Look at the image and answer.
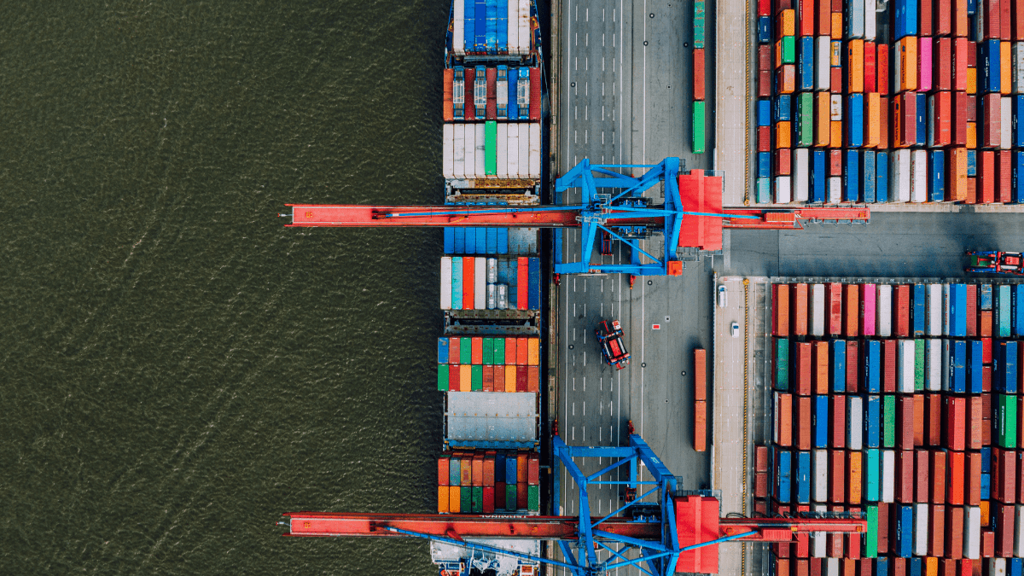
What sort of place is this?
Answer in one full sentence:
This image shows a port.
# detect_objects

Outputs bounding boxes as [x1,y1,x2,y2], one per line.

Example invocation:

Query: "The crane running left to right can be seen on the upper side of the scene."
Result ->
[273,154,873,287]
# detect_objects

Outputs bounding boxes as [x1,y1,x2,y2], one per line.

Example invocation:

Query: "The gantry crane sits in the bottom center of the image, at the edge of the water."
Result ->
[272,418,869,576]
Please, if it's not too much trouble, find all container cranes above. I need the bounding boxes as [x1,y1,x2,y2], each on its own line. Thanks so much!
[273,154,873,287]
[272,418,869,576]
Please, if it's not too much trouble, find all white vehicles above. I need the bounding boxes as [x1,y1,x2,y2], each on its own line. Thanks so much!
[717,284,728,306]
[731,321,740,338]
